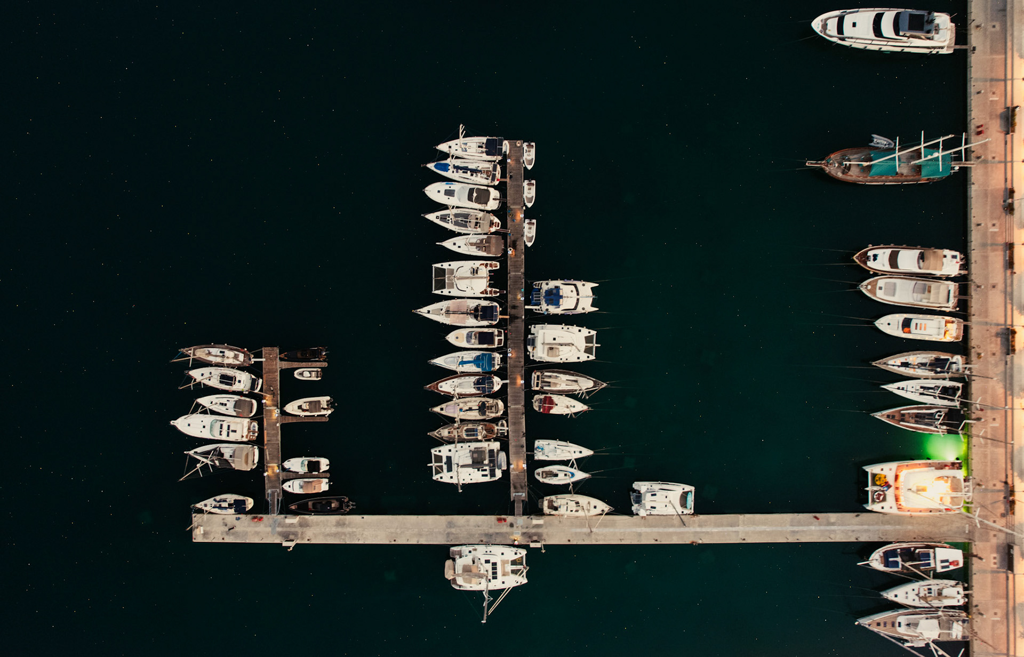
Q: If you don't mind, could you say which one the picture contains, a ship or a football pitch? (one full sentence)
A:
It is a ship that can be seen here.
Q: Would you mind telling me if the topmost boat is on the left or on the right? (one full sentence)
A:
The topmost boat is on the right side of the image.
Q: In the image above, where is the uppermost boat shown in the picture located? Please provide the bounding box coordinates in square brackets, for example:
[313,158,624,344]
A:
[771,7,968,54]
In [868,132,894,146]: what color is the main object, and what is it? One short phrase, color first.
gray boat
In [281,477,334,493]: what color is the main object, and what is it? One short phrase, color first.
white boat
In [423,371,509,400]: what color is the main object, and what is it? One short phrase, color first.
white boat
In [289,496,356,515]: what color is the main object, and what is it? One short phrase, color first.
black boat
